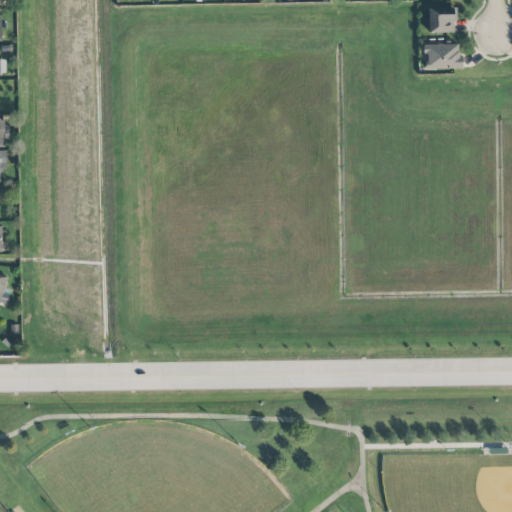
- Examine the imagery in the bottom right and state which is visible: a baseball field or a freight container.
baseball field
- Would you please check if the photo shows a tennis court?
No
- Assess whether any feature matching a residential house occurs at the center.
No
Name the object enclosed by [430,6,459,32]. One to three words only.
house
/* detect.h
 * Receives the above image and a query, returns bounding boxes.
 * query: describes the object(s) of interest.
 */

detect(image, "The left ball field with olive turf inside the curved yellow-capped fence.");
[28,421,290,512]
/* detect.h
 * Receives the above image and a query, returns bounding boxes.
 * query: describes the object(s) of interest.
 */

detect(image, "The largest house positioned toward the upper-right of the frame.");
[424,44,464,69]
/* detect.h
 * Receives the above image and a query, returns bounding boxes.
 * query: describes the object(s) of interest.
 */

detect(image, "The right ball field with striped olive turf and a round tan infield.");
[382,454,512,512]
